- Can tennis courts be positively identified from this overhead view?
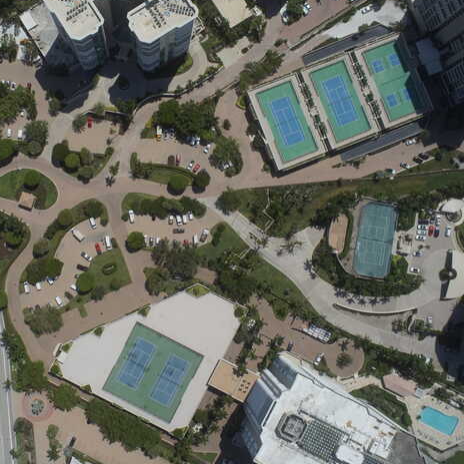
Yes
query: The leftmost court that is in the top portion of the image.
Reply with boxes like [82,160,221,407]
[256,81,317,162]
